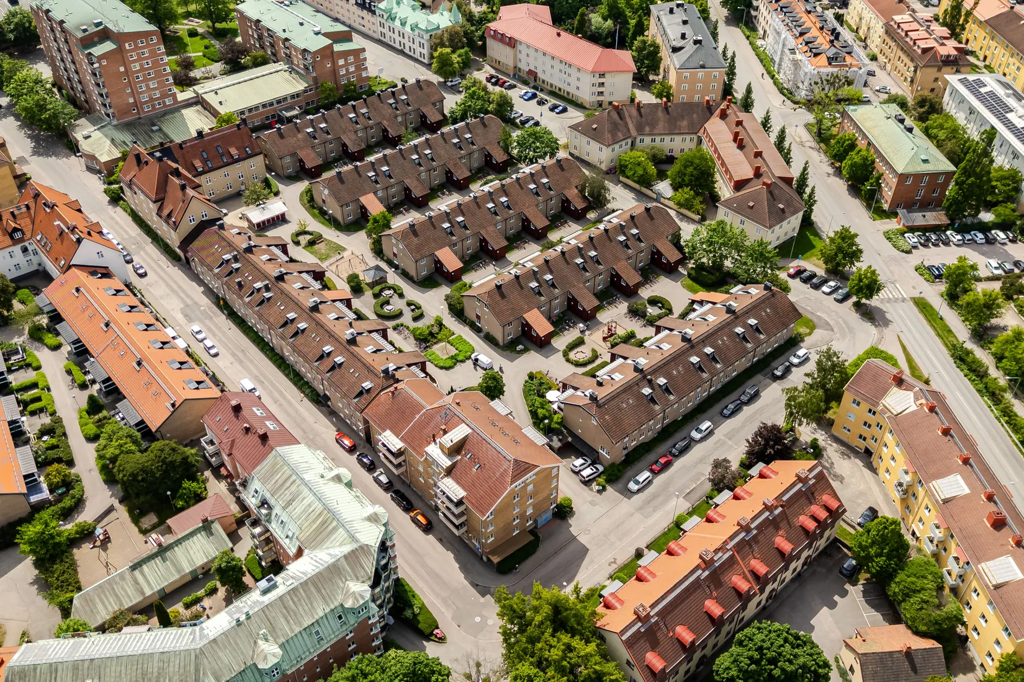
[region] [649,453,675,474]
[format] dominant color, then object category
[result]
red car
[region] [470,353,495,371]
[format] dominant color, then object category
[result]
white vehicle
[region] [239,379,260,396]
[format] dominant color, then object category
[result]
white vehicle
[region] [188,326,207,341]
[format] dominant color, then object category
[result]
white car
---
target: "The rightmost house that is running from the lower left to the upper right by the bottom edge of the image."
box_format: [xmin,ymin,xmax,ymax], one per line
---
[585,460,845,682]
